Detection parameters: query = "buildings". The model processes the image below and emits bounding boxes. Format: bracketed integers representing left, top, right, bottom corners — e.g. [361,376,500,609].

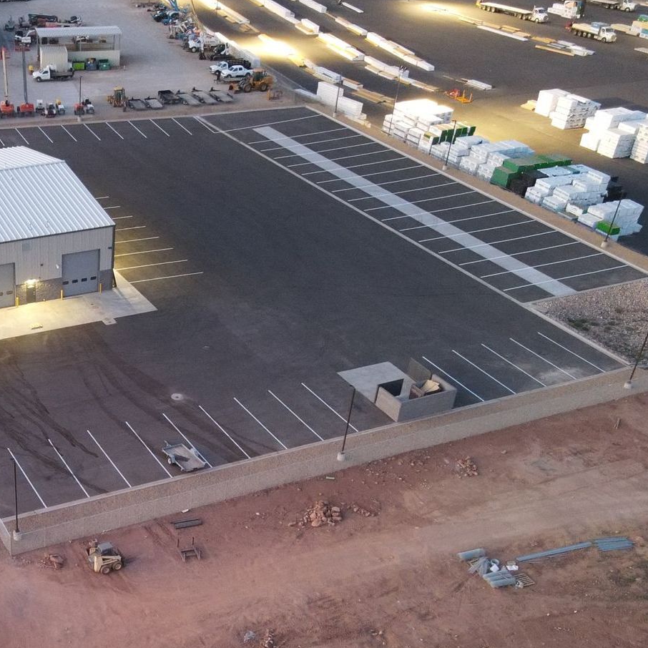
[36,24,126,64]
[0,145,120,308]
